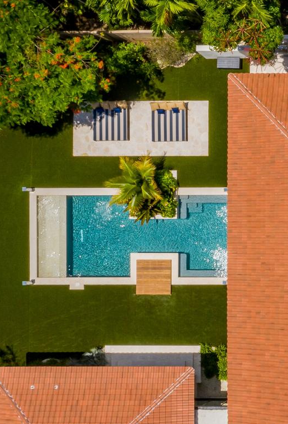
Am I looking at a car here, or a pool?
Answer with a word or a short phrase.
pool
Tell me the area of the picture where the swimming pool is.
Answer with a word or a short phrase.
center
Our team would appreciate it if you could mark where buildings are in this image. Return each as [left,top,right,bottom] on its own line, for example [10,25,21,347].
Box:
[225,70,288,424]
[0,365,198,424]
